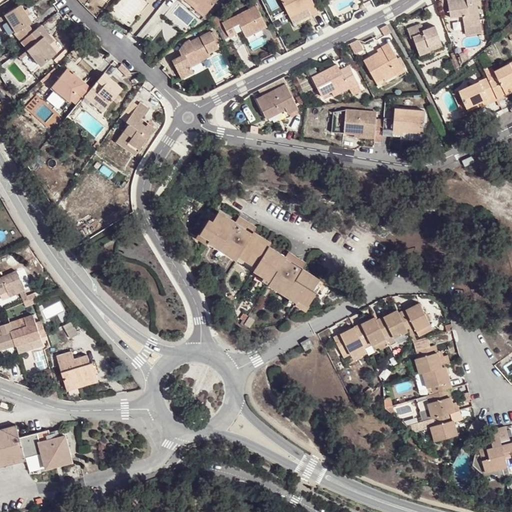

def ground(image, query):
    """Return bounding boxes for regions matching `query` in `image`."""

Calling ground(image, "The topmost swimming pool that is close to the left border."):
[9,62,26,82]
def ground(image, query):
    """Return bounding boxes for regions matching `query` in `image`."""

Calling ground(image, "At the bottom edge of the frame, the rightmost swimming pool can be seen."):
[454,450,476,490]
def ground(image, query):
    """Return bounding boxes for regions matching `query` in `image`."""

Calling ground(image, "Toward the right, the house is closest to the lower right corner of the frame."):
[480,427,512,475]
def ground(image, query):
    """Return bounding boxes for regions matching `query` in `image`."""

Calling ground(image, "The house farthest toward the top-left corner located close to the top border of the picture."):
[4,6,32,36]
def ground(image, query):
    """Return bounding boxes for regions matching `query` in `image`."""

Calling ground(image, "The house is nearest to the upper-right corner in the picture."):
[447,0,484,36]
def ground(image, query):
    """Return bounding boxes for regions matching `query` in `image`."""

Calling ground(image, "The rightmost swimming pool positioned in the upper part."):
[462,35,482,48]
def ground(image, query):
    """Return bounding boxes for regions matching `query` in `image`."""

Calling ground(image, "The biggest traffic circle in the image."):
[136,340,248,450]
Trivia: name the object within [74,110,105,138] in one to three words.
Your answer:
swimming pool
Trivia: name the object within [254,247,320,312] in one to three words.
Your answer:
building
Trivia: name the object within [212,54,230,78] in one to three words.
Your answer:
swimming pool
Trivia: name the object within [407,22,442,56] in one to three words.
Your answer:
house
